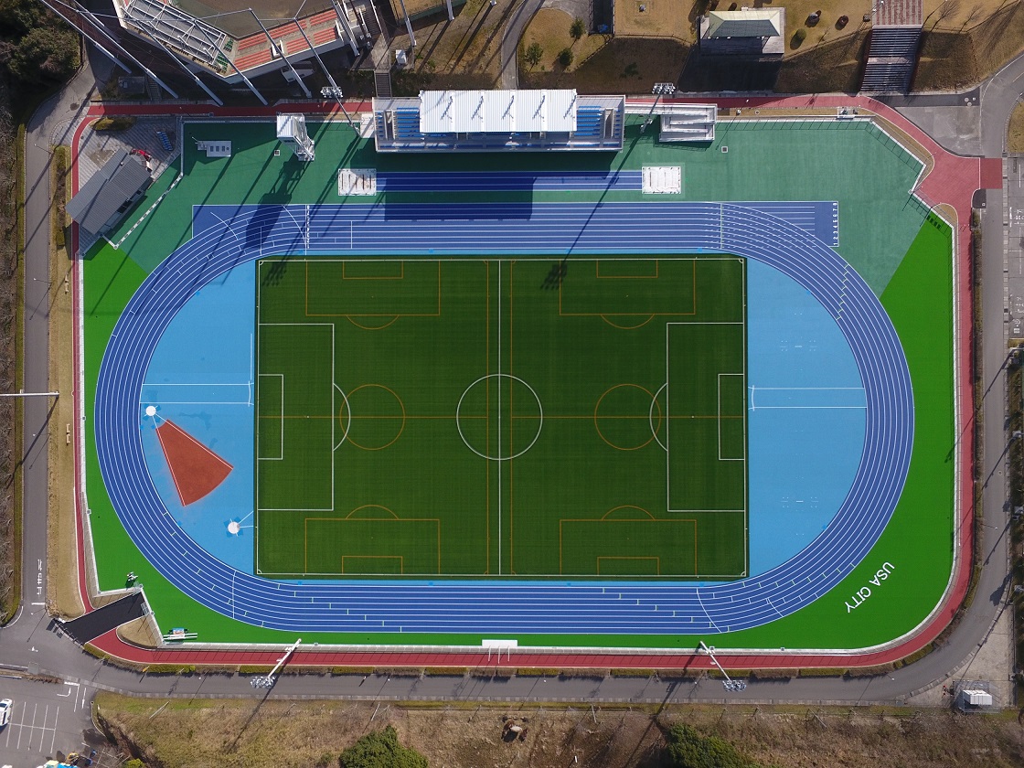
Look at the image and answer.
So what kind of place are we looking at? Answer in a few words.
sports ground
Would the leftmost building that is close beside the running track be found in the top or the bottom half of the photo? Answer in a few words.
top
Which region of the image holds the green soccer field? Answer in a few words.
center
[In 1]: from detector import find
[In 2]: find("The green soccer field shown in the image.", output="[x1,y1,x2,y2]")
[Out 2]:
[253,254,749,581]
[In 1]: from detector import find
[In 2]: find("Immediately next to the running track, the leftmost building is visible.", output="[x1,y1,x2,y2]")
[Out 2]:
[66,148,160,259]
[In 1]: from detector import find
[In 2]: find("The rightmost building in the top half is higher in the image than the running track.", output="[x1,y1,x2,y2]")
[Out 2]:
[699,6,785,56]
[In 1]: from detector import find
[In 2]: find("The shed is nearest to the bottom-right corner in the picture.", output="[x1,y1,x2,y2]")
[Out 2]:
[964,689,997,705]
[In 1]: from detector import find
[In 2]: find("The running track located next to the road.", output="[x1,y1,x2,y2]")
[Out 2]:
[93,202,916,634]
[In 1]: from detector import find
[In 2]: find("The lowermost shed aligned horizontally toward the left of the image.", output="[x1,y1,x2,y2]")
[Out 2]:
[188,135,234,159]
